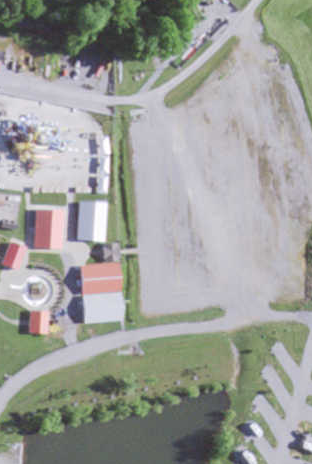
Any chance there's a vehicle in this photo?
Yes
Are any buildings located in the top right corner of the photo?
No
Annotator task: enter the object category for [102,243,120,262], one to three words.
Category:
building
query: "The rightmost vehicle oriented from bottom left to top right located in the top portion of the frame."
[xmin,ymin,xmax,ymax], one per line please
[208,18,227,36]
